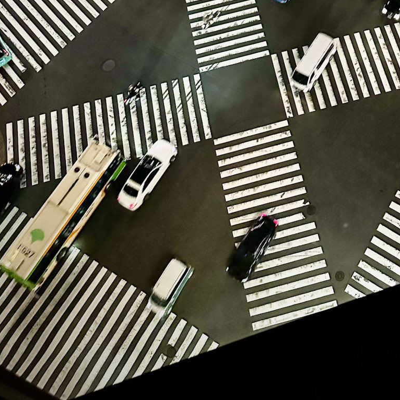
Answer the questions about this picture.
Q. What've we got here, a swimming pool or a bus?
bus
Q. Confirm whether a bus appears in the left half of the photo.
Yes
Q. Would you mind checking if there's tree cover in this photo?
No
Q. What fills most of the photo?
paved ground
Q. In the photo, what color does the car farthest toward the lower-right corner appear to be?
black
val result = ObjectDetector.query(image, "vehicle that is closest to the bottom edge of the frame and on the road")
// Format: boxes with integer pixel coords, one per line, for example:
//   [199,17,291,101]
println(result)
[150,258,194,315]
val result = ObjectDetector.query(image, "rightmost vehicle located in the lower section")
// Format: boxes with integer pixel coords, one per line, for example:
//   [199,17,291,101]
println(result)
[226,207,282,284]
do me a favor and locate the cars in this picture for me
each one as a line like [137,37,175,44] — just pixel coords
[226,207,282,284]
[0,38,13,66]
[0,162,30,223]
[119,145,174,210]
[291,29,340,92]
[150,258,194,315]
[384,0,400,22]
